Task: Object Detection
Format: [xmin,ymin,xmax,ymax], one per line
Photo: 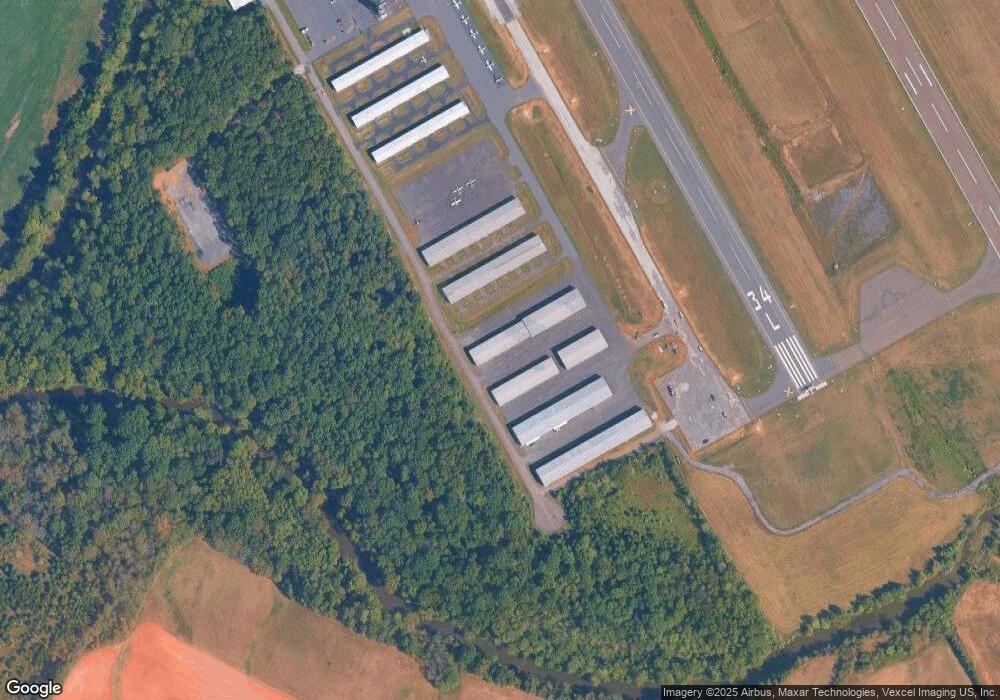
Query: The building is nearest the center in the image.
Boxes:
[470,320,532,366]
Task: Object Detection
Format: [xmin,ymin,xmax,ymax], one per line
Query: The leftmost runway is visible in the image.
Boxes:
[572,0,826,399]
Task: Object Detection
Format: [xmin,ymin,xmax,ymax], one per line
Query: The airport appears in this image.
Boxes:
[284,0,1000,494]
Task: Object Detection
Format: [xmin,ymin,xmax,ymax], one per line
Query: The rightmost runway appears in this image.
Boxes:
[855,0,1000,257]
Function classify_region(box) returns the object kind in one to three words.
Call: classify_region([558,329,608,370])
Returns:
hangar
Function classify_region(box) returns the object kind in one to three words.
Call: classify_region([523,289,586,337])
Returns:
hangar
